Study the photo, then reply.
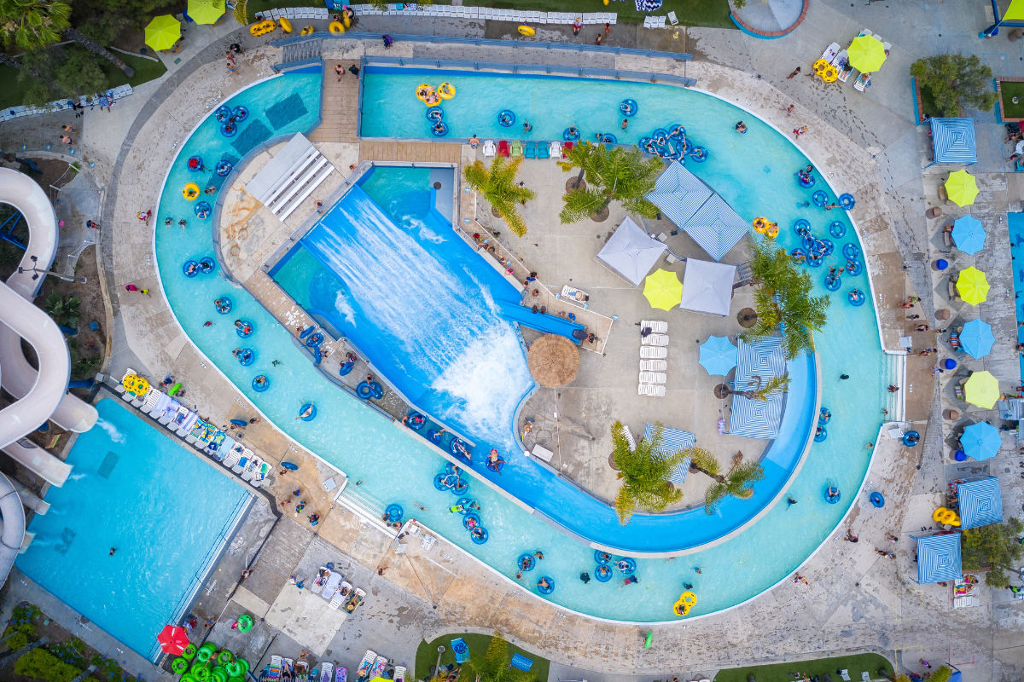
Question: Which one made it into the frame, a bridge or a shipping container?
bridge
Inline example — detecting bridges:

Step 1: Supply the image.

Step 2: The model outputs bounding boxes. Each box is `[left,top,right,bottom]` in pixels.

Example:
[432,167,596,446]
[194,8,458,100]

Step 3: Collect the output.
[312,56,362,139]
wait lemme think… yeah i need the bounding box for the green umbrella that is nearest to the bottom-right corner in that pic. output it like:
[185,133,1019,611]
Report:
[956,371,995,405]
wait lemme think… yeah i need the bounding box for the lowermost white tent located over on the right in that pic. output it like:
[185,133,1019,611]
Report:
[671,257,735,318]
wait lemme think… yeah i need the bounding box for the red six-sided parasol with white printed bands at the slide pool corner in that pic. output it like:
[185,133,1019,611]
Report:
[161,622,194,654]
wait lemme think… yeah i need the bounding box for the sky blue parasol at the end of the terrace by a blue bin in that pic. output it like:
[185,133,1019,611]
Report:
[955,419,997,460]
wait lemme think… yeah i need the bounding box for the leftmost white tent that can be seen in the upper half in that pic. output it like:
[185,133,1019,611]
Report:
[593,217,667,290]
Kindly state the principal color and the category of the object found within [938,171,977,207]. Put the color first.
green umbrella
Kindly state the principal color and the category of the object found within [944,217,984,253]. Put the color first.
blue umbrella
